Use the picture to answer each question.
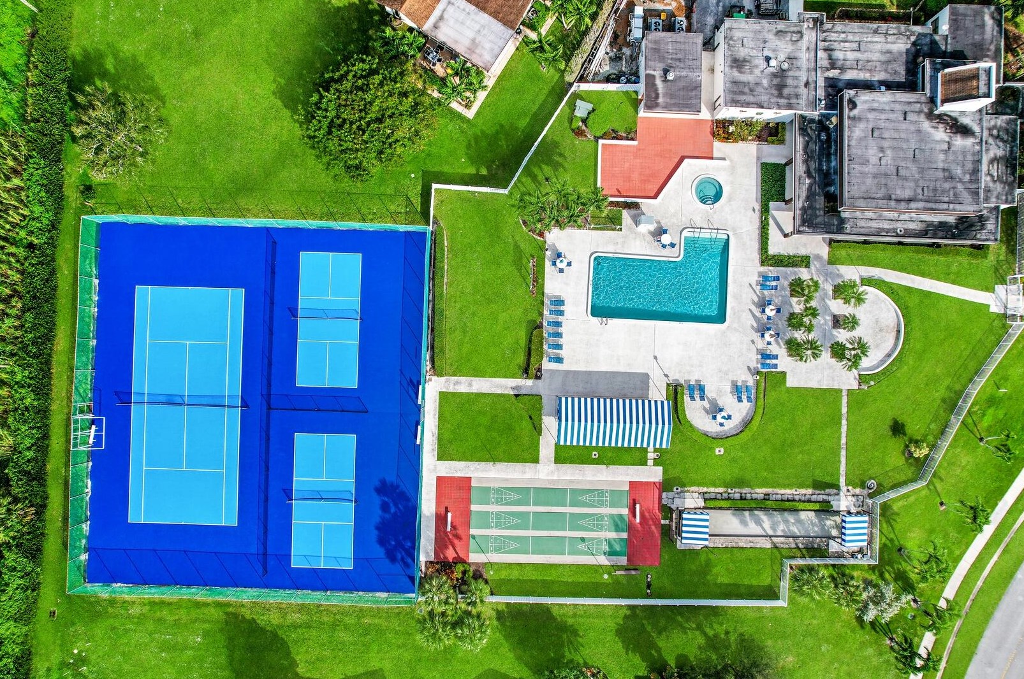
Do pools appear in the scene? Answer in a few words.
Yes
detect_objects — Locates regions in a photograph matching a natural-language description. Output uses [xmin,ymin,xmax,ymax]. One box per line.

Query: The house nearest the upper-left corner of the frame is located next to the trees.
[376,0,545,75]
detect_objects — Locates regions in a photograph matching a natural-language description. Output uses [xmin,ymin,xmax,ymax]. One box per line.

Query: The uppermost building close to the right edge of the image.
[714,4,1024,243]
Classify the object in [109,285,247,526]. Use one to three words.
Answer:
tennis court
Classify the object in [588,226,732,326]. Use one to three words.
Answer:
swimming pool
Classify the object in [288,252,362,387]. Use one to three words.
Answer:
sports court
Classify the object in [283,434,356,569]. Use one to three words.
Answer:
sports court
